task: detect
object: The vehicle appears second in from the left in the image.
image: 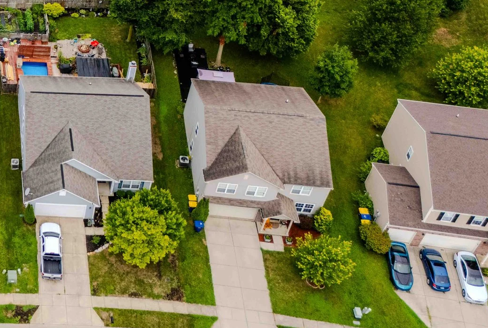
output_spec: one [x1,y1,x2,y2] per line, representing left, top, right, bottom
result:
[385,243,416,291]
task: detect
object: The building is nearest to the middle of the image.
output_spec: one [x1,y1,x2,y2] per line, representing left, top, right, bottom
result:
[181,77,333,238]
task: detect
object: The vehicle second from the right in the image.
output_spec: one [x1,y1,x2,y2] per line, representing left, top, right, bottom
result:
[416,248,452,295]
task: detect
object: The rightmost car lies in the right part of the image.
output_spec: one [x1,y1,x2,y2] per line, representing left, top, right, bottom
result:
[453,253,488,303]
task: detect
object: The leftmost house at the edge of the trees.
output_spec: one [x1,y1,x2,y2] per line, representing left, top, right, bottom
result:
[17,59,156,222]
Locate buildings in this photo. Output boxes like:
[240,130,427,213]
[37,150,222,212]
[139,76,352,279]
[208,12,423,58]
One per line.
[17,59,156,222]
[181,77,333,238]
[365,99,488,269]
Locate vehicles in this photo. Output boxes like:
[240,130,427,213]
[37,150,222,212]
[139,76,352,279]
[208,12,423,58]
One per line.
[416,248,452,295]
[385,243,416,291]
[453,253,488,303]
[39,224,63,281]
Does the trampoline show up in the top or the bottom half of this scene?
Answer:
top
